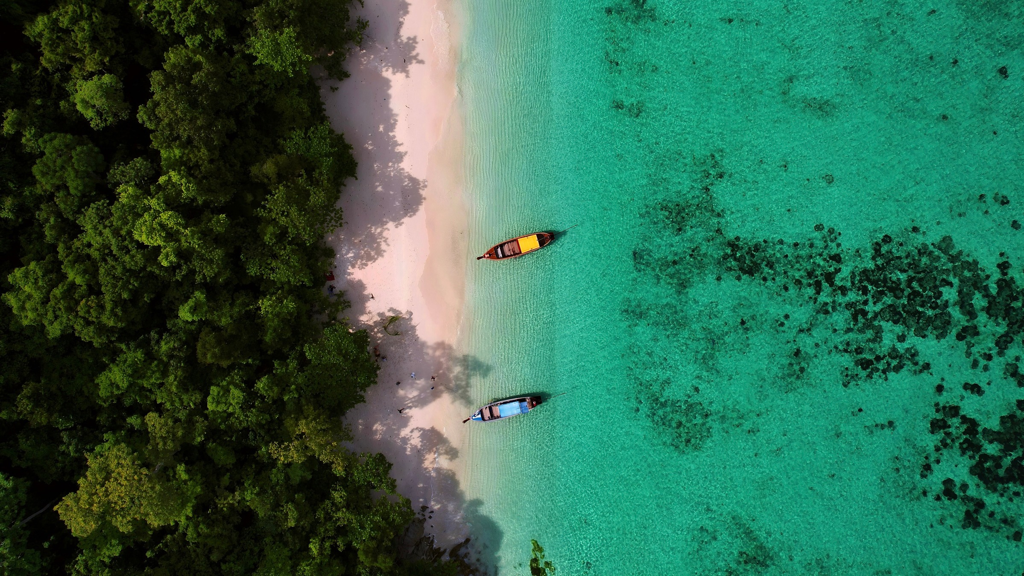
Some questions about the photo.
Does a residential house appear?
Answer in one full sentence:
No, the scene contains no residential house.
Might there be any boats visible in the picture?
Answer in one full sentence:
Yes, a boat is visible in the scene.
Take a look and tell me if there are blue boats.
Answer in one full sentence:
Yes, the photo shows a blue boat.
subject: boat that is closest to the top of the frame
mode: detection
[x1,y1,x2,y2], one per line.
[475,223,576,260]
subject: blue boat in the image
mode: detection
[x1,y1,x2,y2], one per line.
[461,391,564,424]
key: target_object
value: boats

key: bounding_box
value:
[475,223,576,260]
[461,391,564,424]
